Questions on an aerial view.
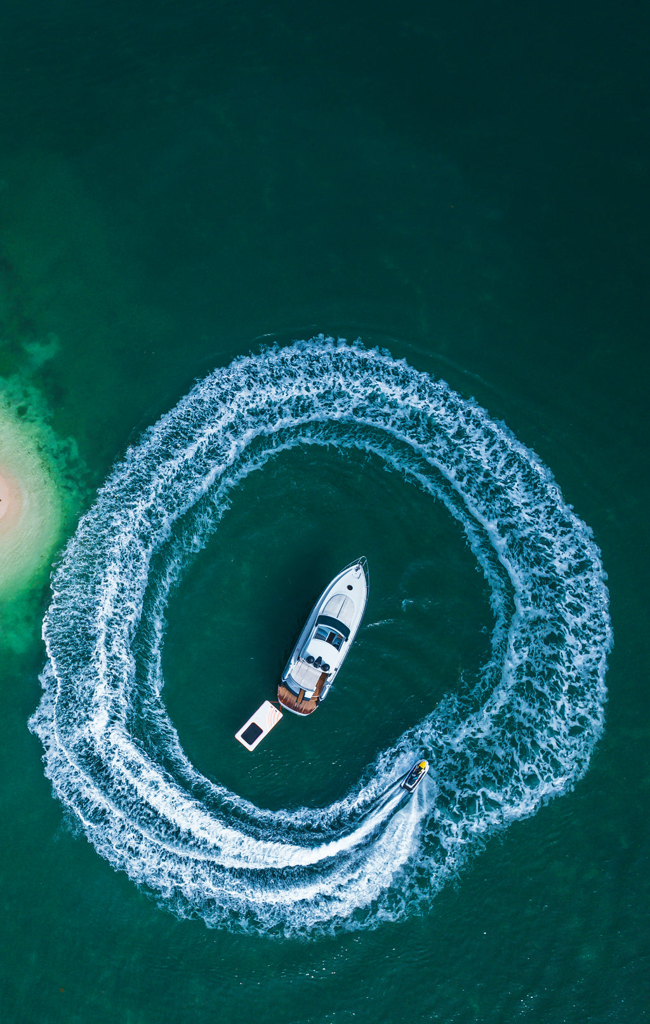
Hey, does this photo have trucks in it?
No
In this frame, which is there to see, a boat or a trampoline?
boat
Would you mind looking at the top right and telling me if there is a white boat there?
No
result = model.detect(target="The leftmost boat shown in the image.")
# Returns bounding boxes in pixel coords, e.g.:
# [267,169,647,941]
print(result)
[277,557,371,714]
